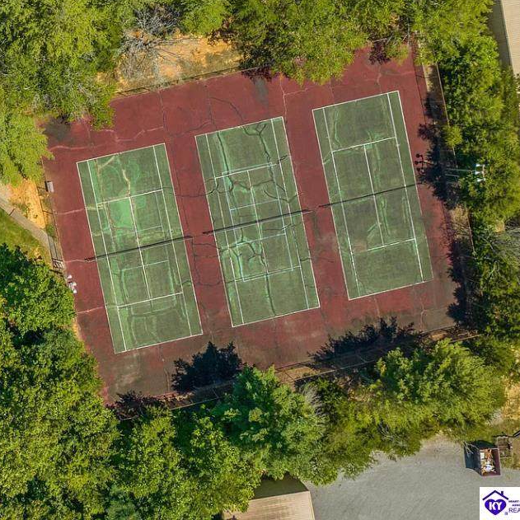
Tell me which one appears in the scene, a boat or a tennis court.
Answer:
tennis court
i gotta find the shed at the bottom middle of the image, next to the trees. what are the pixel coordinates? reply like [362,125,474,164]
[233,481,314,520]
